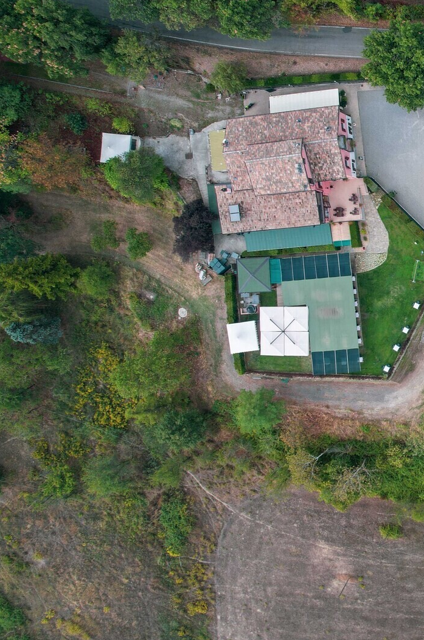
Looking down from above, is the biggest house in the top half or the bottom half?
top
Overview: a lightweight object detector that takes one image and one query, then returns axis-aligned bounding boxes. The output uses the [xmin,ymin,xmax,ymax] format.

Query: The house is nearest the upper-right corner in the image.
[208,88,356,251]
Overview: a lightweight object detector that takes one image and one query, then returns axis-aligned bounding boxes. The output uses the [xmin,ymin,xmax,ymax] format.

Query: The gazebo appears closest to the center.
[227,320,260,353]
